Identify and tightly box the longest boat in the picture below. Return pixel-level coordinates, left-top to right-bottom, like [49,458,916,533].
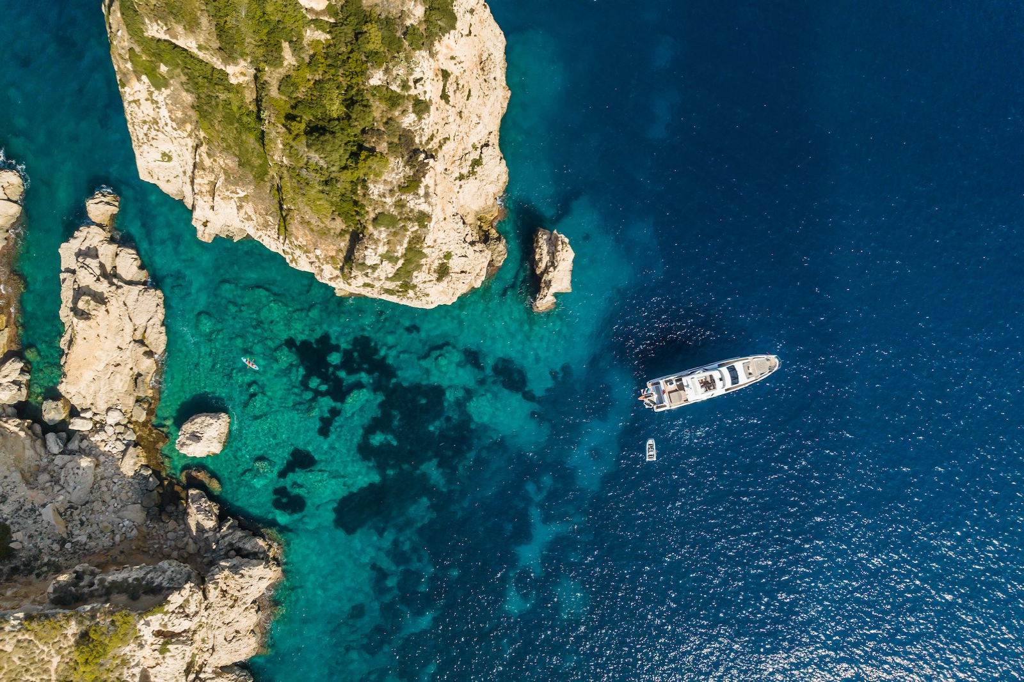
[639,355,782,409]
